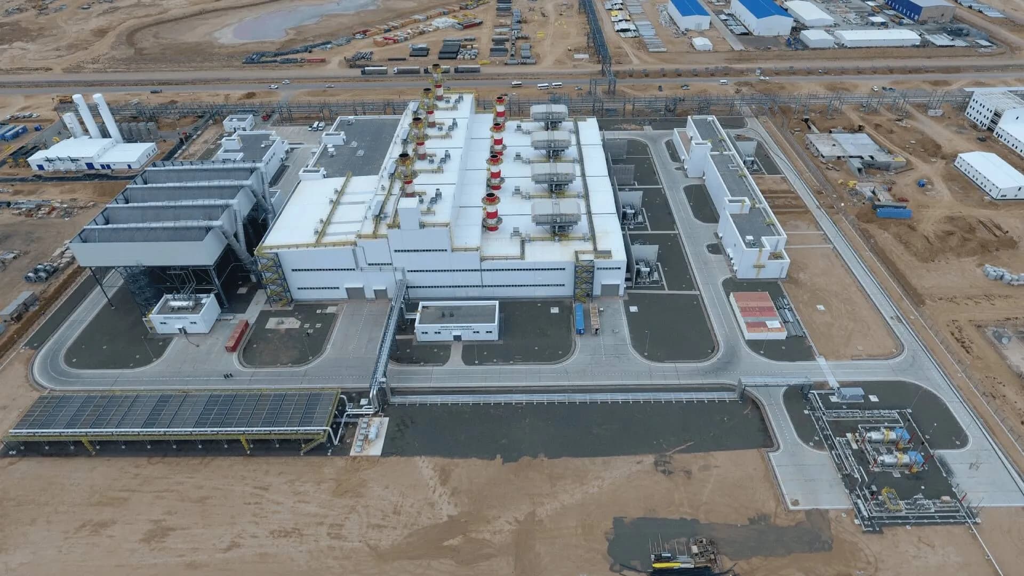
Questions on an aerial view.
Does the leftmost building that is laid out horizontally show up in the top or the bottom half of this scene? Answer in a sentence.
You can find the leftmost building that is laid out horizontally in the top half.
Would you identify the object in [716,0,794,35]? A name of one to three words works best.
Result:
building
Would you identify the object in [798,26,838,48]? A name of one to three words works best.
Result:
building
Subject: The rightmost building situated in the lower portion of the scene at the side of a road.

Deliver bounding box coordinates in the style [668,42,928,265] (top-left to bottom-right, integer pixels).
[833,384,868,402]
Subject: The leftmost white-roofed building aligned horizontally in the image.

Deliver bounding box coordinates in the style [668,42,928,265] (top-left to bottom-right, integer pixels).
[23,132,162,170]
